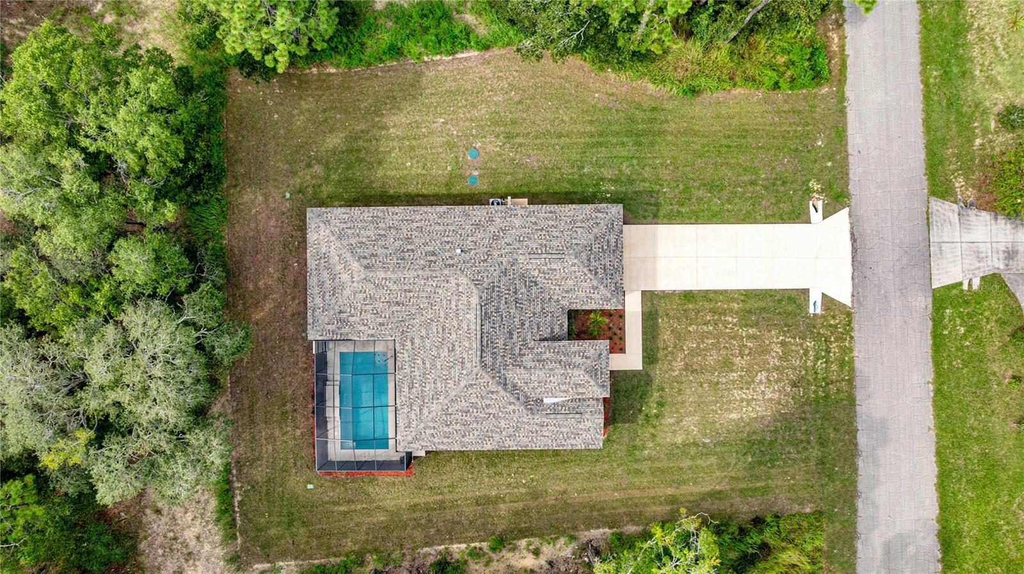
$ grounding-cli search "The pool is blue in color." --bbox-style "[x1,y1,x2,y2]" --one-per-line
[336,349,391,453]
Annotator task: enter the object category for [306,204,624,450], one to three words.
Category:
house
